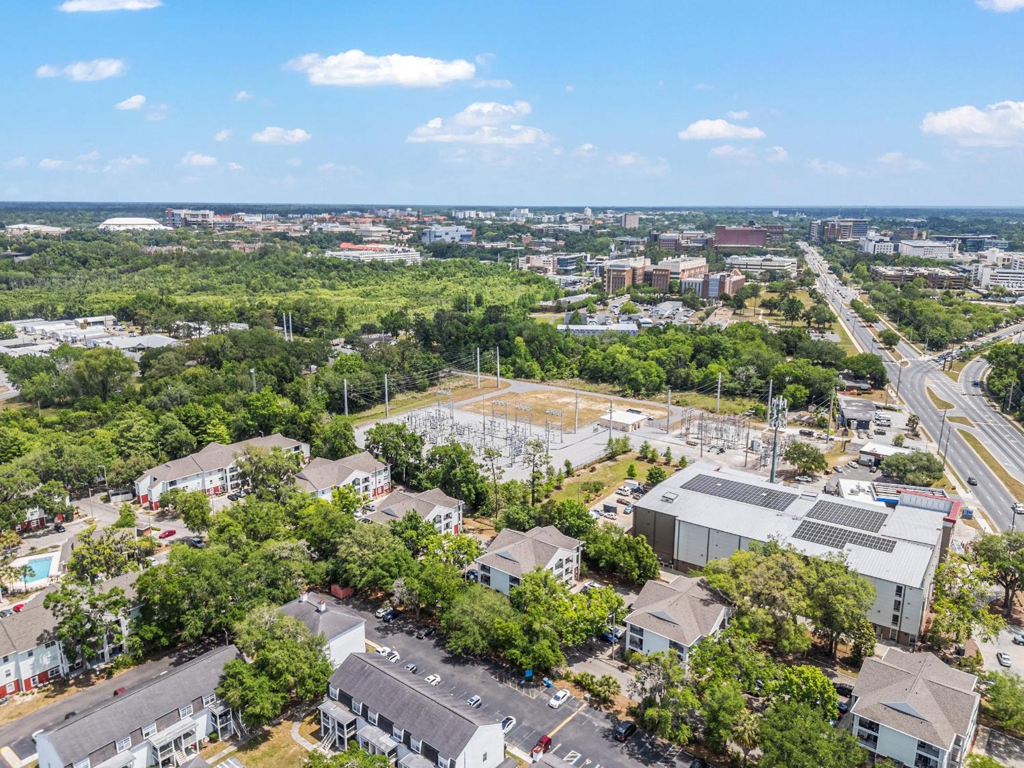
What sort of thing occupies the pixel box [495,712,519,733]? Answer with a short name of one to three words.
car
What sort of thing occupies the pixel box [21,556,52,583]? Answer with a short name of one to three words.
swimming pool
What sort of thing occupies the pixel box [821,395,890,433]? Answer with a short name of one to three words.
building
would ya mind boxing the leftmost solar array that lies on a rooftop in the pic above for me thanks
[683,473,797,509]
